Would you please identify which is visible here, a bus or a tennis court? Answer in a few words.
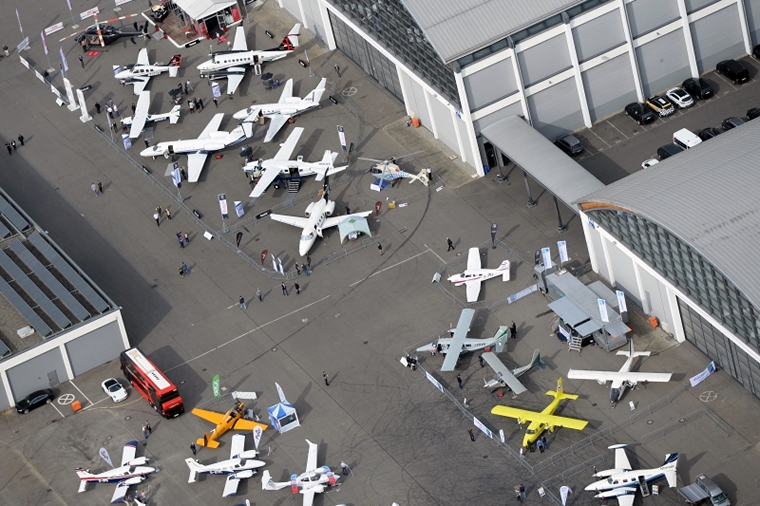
bus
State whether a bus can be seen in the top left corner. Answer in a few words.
No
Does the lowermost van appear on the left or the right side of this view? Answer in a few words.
right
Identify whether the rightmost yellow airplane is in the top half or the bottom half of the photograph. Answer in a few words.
bottom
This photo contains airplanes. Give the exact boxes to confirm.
[140,113,252,185]
[261,444,340,506]
[241,125,341,195]
[198,22,300,93]
[117,50,182,96]
[418,309,504,369]
[235,76,330,142]
[82,443,159,505]
[483,349,545,394]
[188,437,266,499]
[270,171,376,257]
[569,344,675,413]
[447,249,509,300]
[491,384,589,450]
[586,444,681,506]
[189,398,269,453]
[121,89,181,135]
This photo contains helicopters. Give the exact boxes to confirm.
[346,144,434,191]
[56,16,145,59]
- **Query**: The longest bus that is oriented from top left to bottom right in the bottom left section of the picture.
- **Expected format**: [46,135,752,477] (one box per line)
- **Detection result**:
[120,349,182,420]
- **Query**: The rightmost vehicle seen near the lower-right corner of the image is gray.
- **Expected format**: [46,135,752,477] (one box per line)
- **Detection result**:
[680,473,733,506]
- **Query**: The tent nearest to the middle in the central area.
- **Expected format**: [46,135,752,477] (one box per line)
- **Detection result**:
[335,216,373,247]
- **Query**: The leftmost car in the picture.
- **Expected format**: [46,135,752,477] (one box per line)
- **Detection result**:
[14,390,56,415]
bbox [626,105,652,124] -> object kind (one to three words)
car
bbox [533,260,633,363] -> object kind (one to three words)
truck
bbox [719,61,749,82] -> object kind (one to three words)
car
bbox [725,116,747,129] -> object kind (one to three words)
vehicle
